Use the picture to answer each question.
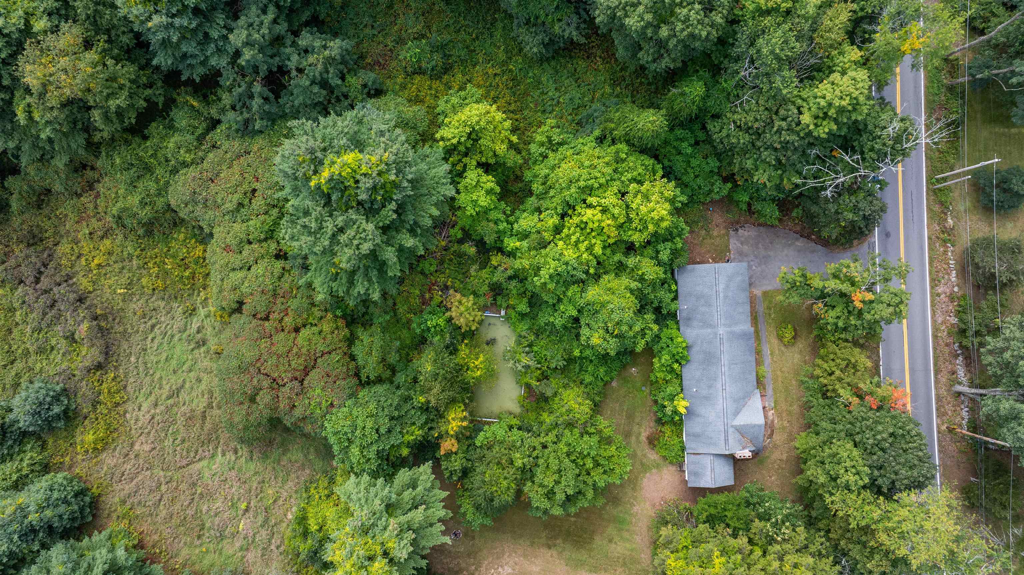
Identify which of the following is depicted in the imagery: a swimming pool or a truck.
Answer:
swimming pool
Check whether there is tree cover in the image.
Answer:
Yes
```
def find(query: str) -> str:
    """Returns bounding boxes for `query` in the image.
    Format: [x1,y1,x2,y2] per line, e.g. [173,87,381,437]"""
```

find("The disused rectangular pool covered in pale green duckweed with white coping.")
[469,313,526,423]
